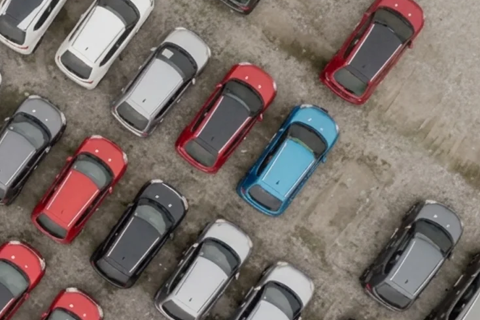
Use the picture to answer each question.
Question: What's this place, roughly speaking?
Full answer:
It's a parking lot.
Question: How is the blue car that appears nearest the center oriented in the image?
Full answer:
The blue car that appears nearest the center is laid out diagonally.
